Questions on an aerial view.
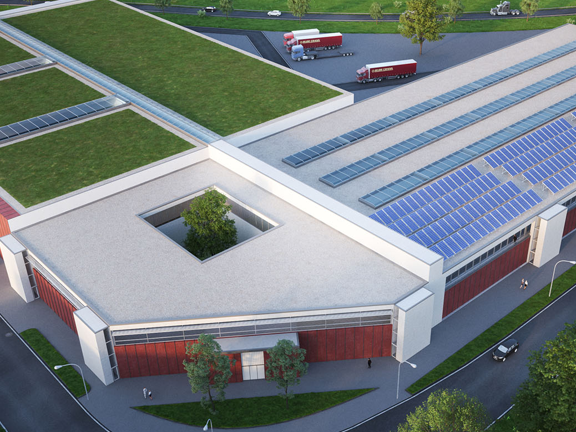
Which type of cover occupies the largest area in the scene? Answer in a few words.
buildings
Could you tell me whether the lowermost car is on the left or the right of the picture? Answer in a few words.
right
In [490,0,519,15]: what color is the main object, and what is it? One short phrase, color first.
gray vehicle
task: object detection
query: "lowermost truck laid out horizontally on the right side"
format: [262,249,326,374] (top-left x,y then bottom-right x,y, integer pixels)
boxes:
[354,59,414,84]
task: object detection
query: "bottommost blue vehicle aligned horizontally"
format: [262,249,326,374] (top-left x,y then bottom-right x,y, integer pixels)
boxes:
[293,45,351,60]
